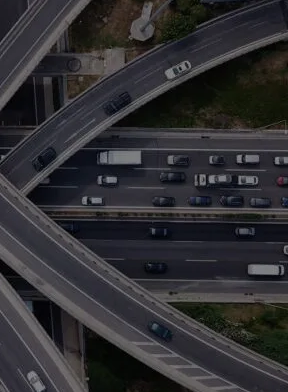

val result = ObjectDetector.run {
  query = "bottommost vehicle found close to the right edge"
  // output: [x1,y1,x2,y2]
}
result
[246,264,283,276]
